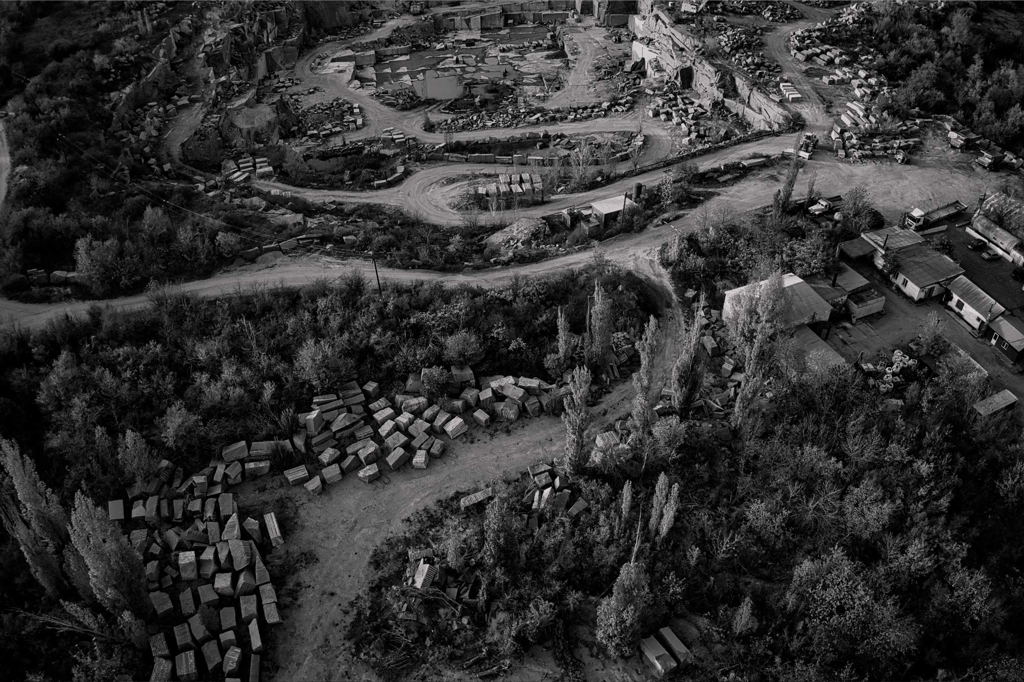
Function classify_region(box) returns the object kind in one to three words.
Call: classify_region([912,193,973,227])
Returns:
truck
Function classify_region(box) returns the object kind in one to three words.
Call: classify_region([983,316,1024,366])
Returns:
shed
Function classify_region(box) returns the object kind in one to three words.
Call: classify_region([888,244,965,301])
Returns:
house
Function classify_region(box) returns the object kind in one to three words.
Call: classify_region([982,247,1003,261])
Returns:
car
